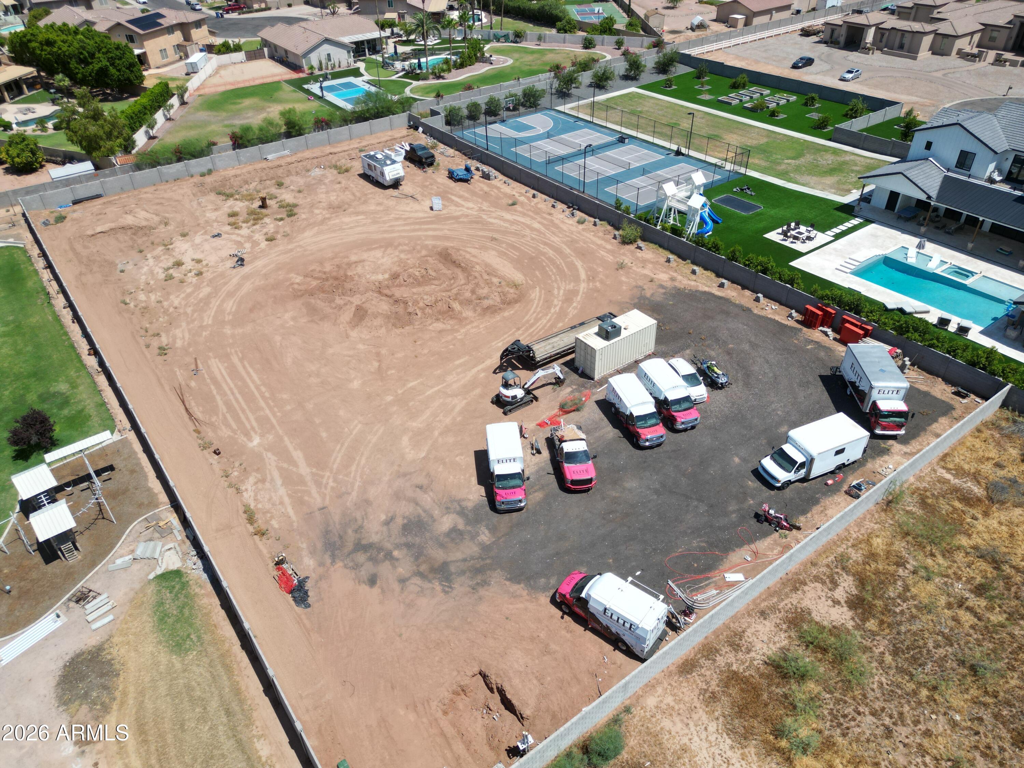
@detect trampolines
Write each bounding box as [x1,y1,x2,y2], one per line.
[715,195,761,213]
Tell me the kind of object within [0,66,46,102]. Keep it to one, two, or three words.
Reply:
house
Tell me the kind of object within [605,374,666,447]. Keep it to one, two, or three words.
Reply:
vehicle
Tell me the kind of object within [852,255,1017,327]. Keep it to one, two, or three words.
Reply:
swimming pool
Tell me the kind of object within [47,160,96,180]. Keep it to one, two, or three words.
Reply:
shed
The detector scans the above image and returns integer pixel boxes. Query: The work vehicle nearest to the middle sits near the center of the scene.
[492,357,559,414]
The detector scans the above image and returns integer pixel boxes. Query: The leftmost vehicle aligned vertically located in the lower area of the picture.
[486,422,531,508]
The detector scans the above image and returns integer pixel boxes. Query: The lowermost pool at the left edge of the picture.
[15,109,61,127]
